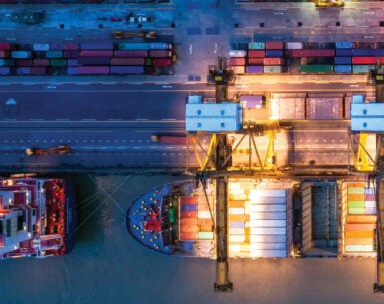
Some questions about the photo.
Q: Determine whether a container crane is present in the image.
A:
Yes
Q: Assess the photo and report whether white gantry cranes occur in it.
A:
No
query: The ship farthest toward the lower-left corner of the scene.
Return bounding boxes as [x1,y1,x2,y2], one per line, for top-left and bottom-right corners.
[0,172,76,258]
